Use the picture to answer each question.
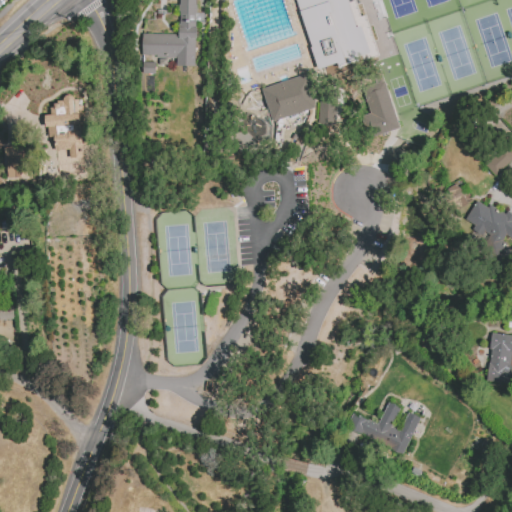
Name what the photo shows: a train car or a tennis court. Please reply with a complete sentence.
The one in the frame is a tennis court.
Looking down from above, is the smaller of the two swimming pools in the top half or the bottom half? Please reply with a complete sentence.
The top half of the photo is where the smaller of the two swimming pools is.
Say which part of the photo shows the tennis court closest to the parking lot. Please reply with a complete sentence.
The tennis court closest to the parking lot is located in the center region of the scene.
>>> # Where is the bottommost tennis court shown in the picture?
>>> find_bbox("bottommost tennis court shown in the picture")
[162,288,205,366]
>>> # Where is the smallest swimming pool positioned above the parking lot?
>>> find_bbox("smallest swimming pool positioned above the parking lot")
[252,44,302,73]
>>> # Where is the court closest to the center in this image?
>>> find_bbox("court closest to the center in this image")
[196,208,240,284]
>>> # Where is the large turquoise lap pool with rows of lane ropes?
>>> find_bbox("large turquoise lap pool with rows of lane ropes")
[234,0,295,51]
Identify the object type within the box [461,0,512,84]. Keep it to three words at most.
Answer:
tennis court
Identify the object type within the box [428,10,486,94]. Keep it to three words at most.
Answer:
tennis court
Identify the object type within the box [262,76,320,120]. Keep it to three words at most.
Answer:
building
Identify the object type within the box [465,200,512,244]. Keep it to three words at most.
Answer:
house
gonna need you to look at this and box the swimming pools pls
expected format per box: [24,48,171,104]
[234,0,295,51]
[252,44,302,73]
